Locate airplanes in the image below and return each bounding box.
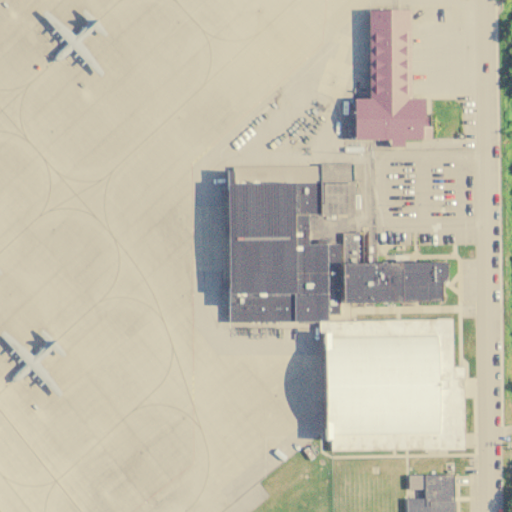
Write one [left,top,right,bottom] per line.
[2,330,66,396]
[44,9,109,74]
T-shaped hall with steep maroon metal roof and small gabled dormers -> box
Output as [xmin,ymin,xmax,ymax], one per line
[355,8,434,146]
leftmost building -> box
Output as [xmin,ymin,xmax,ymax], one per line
[228,166,320,320]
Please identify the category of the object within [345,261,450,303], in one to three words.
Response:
building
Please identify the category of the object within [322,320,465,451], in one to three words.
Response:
hangar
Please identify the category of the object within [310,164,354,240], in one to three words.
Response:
building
